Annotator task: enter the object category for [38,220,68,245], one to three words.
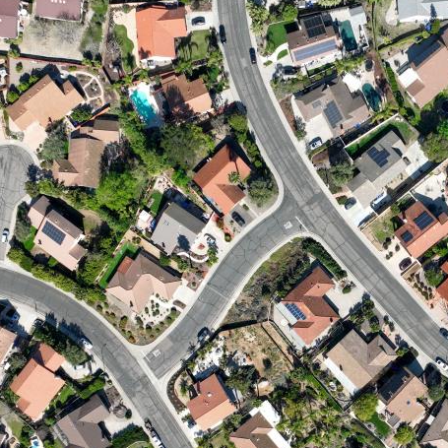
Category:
solar panel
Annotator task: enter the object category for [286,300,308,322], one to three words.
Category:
solar panel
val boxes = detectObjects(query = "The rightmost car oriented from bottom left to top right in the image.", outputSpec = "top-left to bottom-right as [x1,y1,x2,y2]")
[398,255,414,270]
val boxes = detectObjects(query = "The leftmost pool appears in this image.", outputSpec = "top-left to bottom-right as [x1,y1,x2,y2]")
[129,86,157,124]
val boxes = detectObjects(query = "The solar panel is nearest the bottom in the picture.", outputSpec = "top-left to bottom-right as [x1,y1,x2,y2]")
[379,379,403,403]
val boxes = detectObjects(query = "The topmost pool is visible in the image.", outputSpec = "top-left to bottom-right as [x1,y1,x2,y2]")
[340,20,358,52]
